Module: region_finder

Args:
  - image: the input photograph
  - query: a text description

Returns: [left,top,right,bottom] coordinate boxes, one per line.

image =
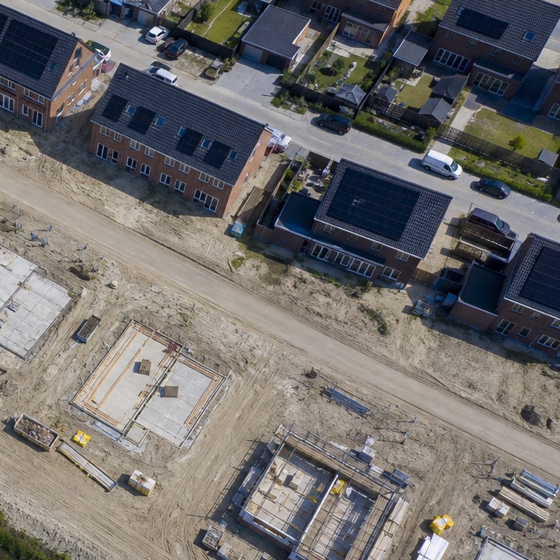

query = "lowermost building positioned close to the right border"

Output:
[447,231,560,353]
